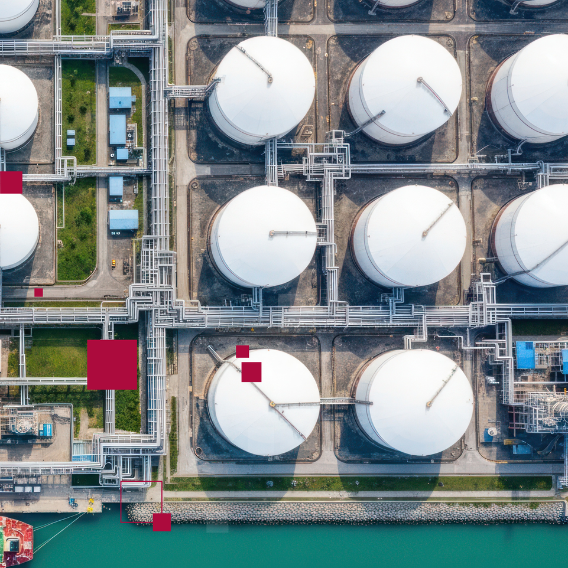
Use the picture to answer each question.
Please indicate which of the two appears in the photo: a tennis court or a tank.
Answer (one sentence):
The one in the frame is a tank.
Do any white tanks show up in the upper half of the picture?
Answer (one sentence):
Yes, a white tank shows up in the upper half of the picture.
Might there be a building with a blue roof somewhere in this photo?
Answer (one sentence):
Yes, the photo shows a building with a blue roof.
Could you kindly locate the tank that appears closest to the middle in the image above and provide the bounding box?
[199,183,318,298]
